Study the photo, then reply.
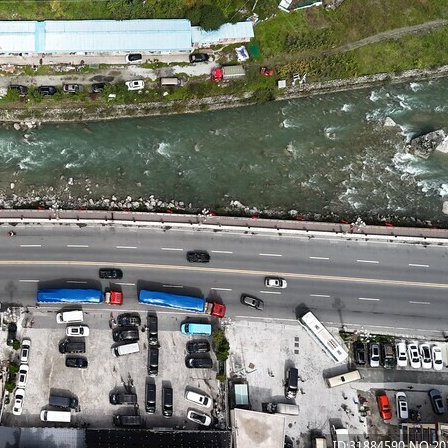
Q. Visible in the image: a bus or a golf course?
bus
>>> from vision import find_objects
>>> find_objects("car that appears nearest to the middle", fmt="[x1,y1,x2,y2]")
[187,250,210,262]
